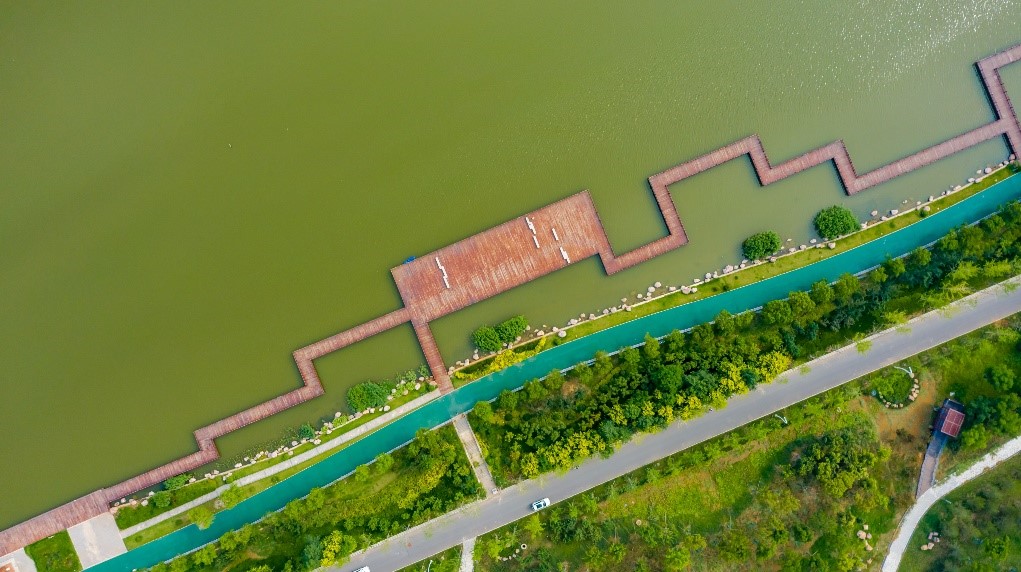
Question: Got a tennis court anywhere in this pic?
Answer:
No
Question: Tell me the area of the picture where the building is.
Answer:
bottom right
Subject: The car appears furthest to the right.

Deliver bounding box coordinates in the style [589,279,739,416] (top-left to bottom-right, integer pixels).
[532,498,550,511]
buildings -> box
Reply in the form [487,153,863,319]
[931,399,965,437]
